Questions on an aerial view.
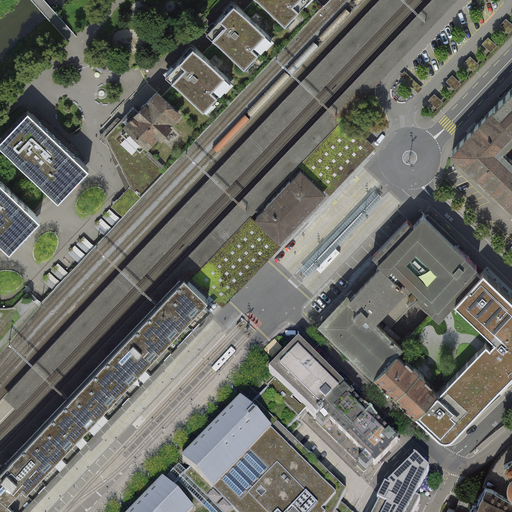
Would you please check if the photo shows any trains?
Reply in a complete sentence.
Yes, a train is visible in the scene.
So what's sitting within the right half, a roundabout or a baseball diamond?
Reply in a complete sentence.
You can see a roundabout within the right half.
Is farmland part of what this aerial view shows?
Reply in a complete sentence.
No, the scene doesn't show any farmland.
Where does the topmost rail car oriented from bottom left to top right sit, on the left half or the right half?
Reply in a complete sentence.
The topmost rail car oriented from bottom left to top right sits on the right side.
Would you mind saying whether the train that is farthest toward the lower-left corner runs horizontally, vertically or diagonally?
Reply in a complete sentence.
The train that is farthest toward the lower-left corner runs diagonally in the image.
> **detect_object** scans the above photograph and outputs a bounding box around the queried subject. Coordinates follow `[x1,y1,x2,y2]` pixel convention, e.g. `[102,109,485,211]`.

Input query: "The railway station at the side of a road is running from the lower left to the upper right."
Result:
[4,0,454,412]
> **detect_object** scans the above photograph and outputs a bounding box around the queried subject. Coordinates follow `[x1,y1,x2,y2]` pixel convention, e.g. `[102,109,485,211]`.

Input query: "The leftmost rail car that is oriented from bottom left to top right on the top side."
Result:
[214,114,250,152]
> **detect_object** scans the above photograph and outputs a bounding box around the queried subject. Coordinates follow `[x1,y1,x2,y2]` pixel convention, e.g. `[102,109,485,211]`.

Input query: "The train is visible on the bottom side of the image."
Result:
[212,345,236,370]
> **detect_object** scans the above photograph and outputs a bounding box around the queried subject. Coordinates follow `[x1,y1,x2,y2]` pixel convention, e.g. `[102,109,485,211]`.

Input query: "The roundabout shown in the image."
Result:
[378,126,442,189]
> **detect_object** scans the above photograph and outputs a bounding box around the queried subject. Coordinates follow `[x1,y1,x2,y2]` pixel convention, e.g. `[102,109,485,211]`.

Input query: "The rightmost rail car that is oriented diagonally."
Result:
[318,7,351,42]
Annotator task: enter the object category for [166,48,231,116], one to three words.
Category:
house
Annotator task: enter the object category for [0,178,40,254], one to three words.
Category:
building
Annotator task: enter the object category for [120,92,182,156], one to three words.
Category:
house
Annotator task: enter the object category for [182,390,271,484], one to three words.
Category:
building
